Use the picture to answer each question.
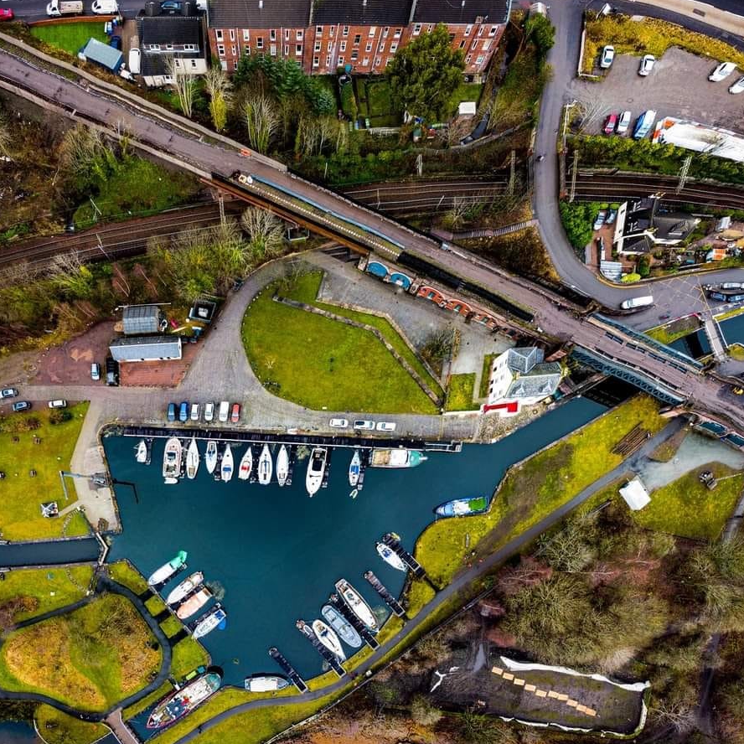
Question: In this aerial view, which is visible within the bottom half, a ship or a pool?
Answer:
ship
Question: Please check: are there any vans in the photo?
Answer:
Yes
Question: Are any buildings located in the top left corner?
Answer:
Yes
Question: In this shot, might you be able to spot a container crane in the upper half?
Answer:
No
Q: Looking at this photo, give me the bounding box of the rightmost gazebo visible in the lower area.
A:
[613,479,651,511]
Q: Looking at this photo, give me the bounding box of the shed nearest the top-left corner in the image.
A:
[83,37,126,78]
